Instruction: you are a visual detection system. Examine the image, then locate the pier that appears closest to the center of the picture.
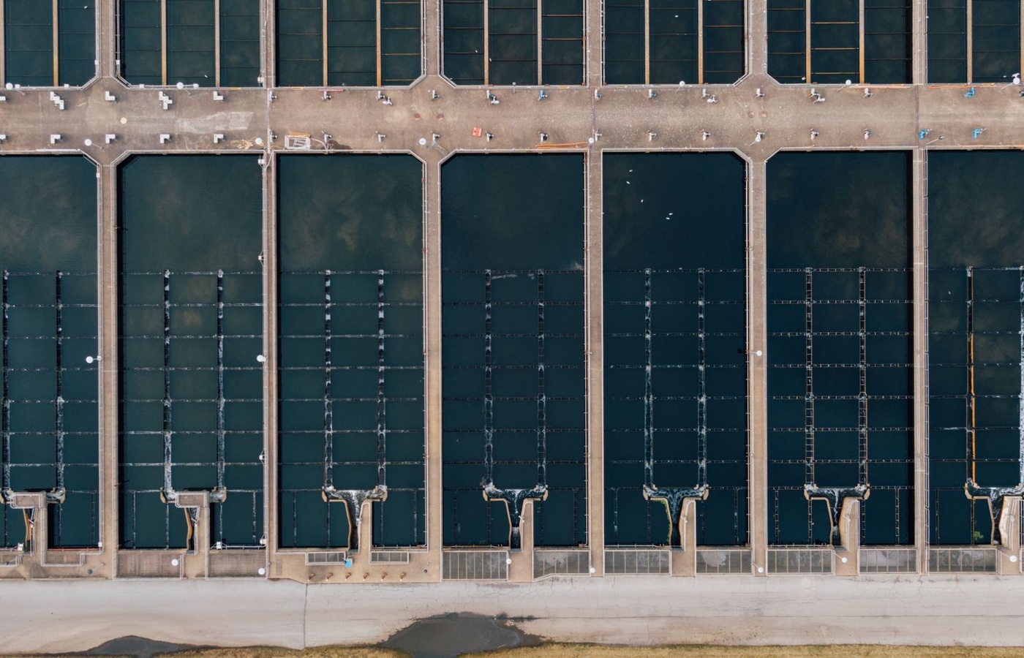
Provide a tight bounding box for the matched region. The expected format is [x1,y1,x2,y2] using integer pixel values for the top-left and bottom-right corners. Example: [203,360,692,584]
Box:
[522,500,535,551]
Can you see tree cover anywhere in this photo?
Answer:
No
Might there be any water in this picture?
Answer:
Yes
